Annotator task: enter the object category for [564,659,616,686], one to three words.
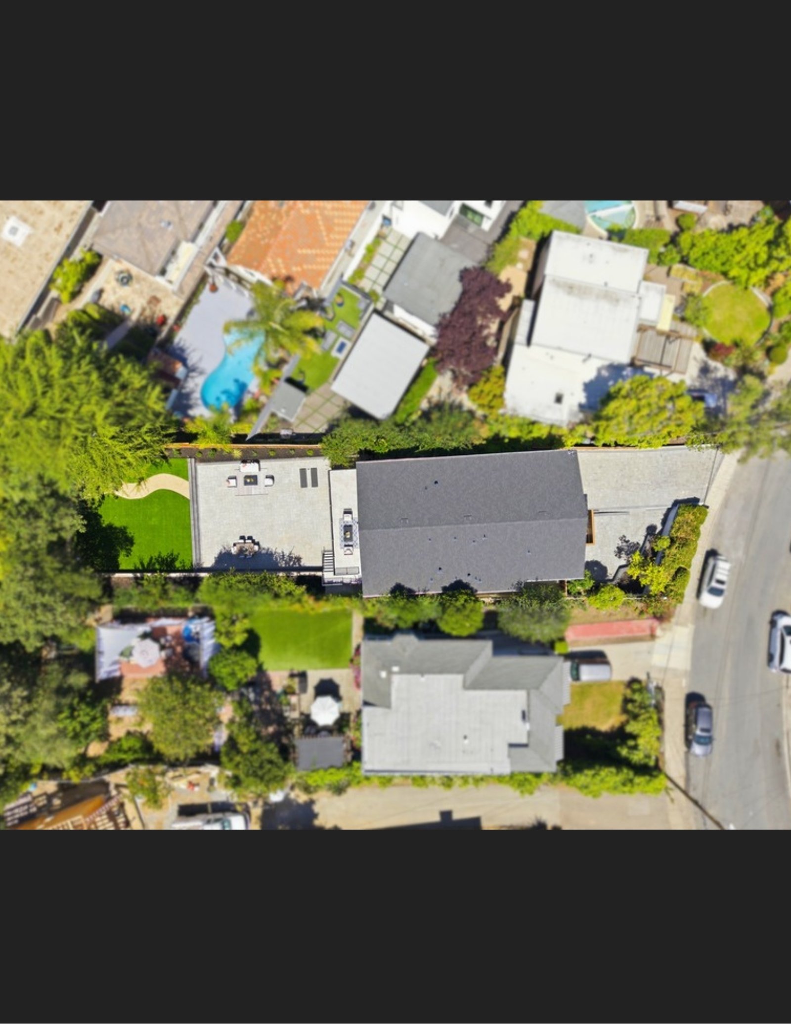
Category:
car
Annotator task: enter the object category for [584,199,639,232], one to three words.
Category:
swimming pool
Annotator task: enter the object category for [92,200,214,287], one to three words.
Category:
house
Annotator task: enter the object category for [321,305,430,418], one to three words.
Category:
shed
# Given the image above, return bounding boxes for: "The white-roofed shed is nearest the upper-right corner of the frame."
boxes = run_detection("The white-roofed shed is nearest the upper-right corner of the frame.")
[663,200,708,224]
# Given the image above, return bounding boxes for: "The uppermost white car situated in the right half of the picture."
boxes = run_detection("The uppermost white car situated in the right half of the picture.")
[695,548,732,609]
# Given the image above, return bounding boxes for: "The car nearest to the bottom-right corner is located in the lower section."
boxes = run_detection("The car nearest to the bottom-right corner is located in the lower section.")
[686,700,716,757]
